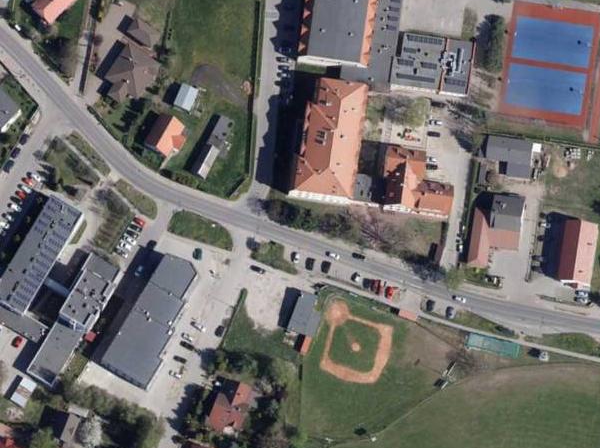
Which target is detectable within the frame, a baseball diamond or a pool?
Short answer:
baseball diamond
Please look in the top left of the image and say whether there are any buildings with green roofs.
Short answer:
No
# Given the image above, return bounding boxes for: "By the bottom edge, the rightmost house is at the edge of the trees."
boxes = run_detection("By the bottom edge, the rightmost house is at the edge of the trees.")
[207,380,254,435]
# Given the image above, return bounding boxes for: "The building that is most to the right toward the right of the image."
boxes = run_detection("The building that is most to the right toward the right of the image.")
[557,219,598,287]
